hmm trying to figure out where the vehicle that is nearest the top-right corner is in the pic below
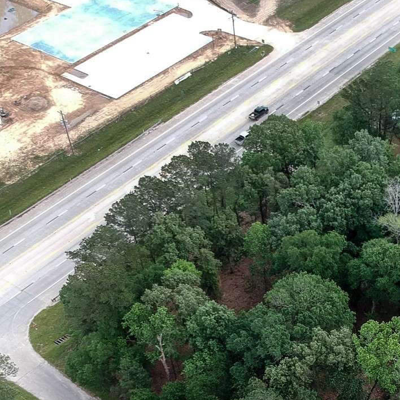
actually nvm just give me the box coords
[247,106,269,120]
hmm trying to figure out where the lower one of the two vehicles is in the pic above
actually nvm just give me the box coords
[234,130,254,145]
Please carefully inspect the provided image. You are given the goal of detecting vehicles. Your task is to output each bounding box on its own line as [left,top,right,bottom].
[247,106,269,120]
[234,130,254,145]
